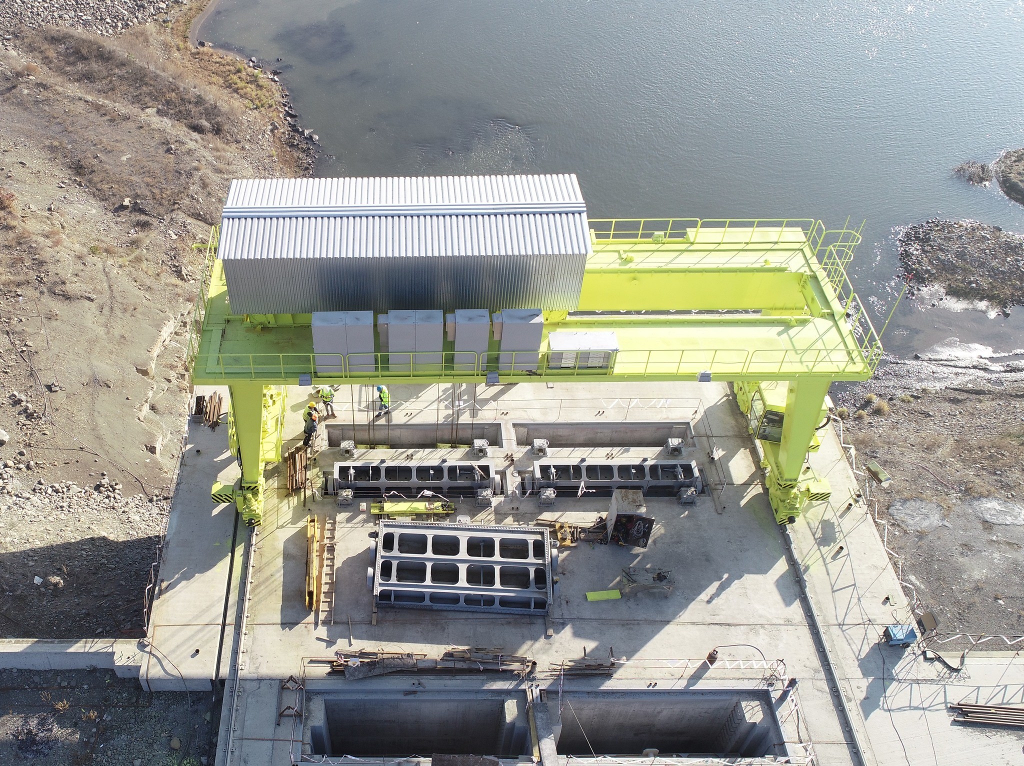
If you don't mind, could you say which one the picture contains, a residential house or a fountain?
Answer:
residential house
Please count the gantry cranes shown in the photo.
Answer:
1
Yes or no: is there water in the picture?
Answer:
Yes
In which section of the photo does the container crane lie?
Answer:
center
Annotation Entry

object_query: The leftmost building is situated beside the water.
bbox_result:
[219,174,594,326]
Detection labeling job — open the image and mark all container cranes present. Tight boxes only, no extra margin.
[190,225,881,541]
